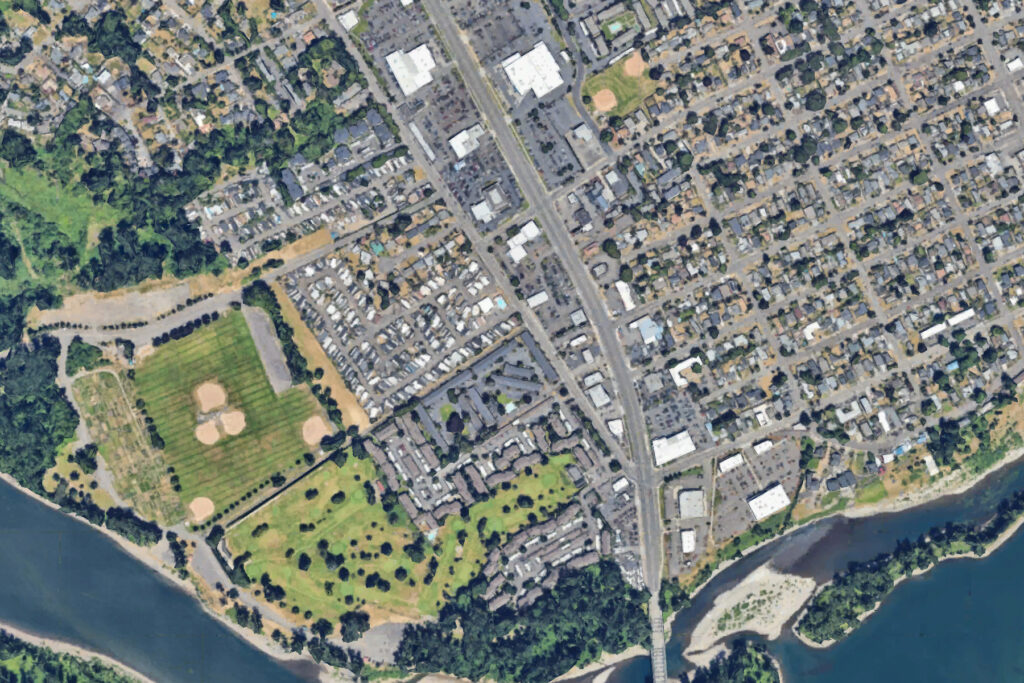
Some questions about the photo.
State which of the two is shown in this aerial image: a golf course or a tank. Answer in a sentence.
Looking from above, you can make out a golf course.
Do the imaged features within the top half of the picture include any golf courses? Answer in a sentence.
No, there's no golf course to be seen within the top half of the picture.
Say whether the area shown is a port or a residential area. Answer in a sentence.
The picture captures a residential area.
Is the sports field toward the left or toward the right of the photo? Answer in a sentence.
You can find the sports field on the left side of the picture.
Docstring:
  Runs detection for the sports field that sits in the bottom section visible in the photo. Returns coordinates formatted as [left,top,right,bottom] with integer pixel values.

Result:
[135,306,335,523]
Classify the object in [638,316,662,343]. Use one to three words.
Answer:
building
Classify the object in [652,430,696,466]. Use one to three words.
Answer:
building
